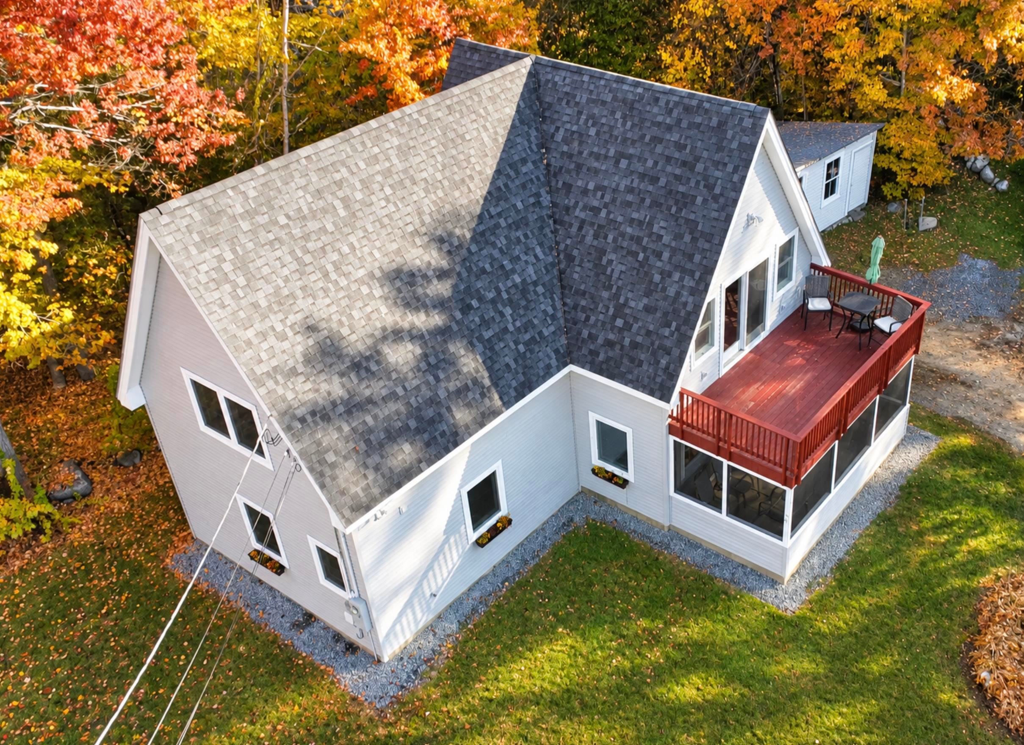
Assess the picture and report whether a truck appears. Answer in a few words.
No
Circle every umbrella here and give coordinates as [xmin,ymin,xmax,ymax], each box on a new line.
[863,230,886,311]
